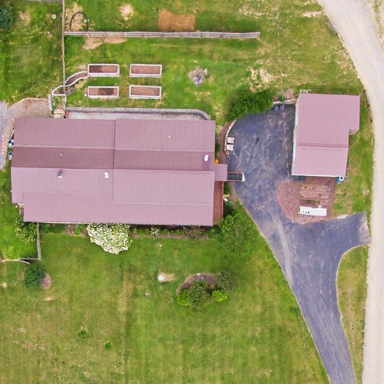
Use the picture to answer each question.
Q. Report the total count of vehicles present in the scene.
none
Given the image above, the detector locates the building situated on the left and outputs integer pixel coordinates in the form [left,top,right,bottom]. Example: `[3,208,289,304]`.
[12,118,228,226]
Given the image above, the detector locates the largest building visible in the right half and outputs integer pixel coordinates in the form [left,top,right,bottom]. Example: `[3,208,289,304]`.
[289,94,360,179]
